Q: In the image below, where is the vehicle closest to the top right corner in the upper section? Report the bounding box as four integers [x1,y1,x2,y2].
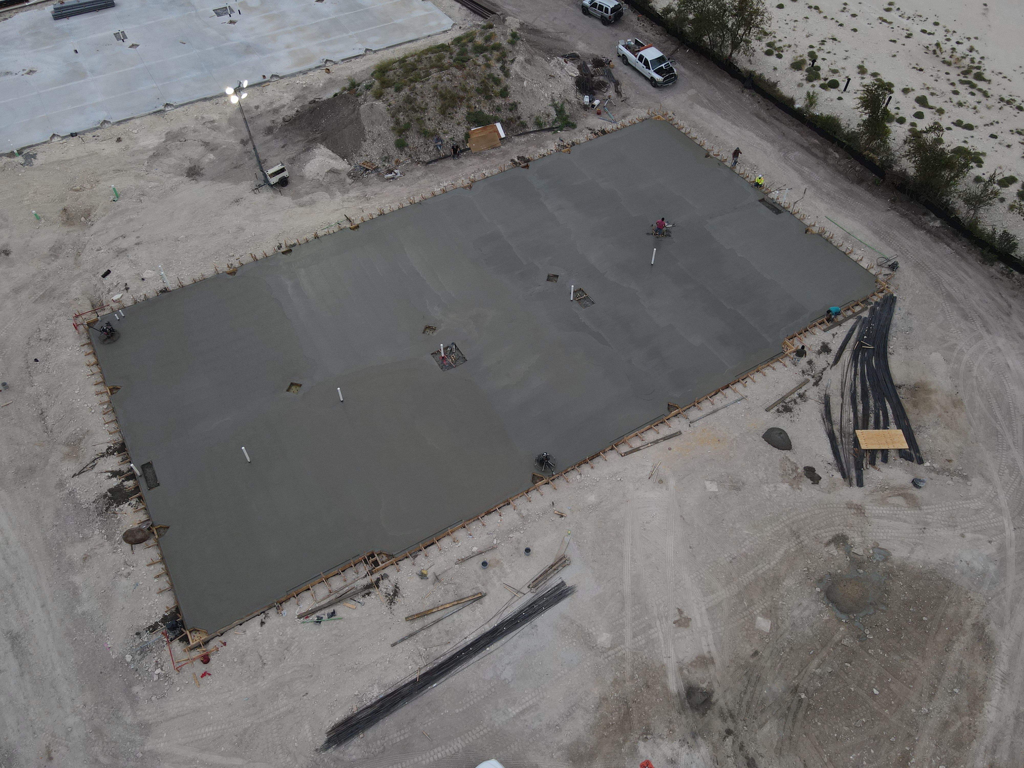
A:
[616,39,680,88]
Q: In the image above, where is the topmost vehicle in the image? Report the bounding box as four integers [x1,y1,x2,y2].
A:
[580,0,625,26]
